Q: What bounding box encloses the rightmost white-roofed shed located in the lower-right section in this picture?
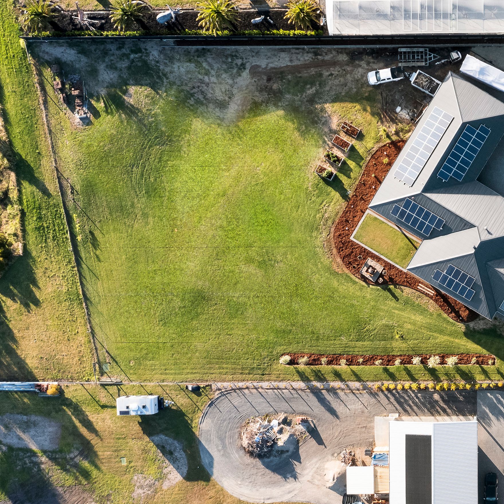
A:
[389,418,478,504]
